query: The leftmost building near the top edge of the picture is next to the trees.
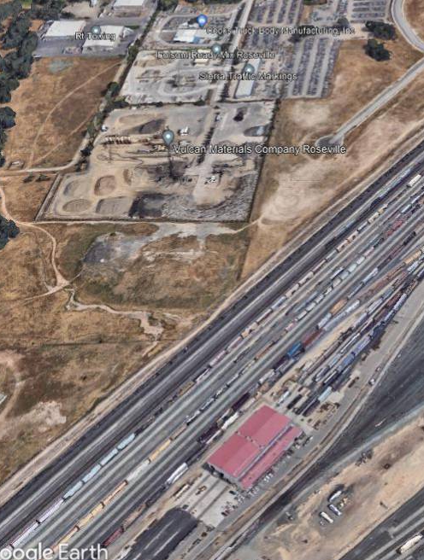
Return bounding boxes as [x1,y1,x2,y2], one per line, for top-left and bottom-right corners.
[44,21,88,40]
